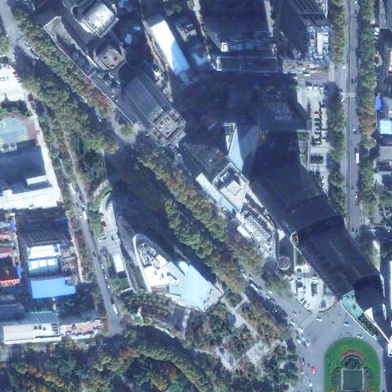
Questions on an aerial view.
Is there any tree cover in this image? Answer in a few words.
Yes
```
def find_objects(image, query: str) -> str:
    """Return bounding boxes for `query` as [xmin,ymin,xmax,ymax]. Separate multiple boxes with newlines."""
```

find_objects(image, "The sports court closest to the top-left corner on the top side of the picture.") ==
[0,112,39,157]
